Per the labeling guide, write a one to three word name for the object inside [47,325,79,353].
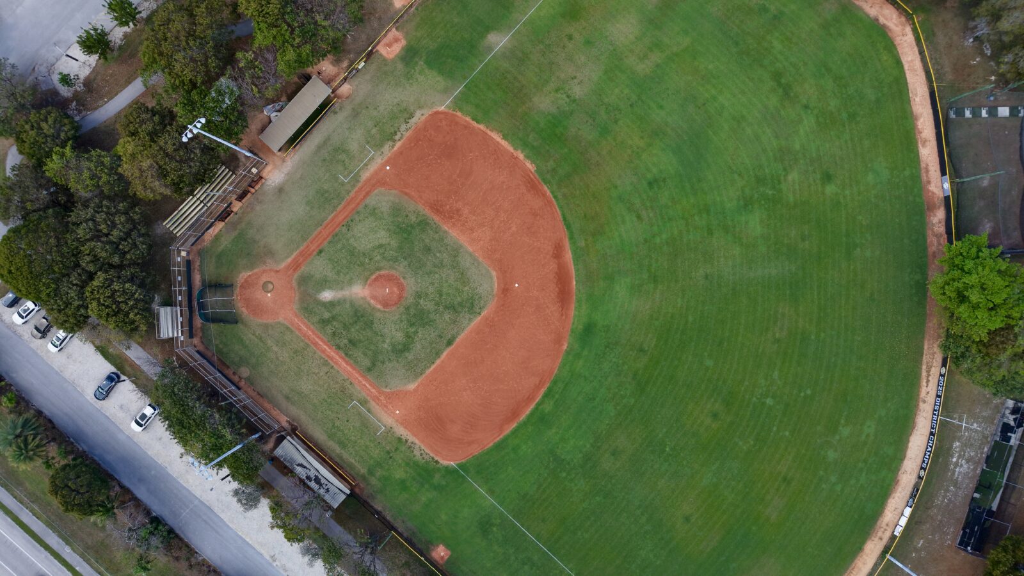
car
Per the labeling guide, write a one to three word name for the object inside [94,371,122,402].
car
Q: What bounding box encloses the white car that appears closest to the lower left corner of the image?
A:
[132,404,159,433]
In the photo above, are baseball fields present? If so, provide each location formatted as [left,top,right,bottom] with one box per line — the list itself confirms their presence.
[189,0,947,576]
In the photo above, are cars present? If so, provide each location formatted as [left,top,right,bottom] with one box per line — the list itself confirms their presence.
[94,371,122,402]
[31,315,55,338]
[12,299,43,327]
[0,283,29,309]
[47,325,79,353]
[132,404,159,433]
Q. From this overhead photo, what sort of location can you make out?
sports ground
